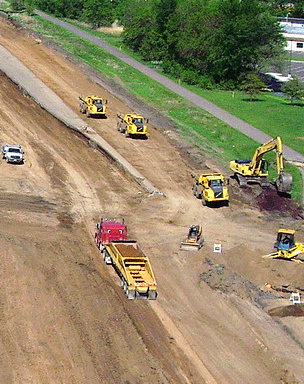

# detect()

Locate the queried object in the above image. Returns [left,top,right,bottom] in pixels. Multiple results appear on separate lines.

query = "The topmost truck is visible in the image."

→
[83,88,109,114]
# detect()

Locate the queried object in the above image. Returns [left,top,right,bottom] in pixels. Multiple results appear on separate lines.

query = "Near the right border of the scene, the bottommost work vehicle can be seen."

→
[250,228,304,264]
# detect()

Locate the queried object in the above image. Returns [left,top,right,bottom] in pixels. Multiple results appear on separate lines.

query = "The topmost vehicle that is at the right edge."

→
[224,144,294,186]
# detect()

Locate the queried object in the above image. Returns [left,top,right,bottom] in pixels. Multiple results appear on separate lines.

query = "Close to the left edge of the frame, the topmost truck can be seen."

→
[0,142,26,164]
